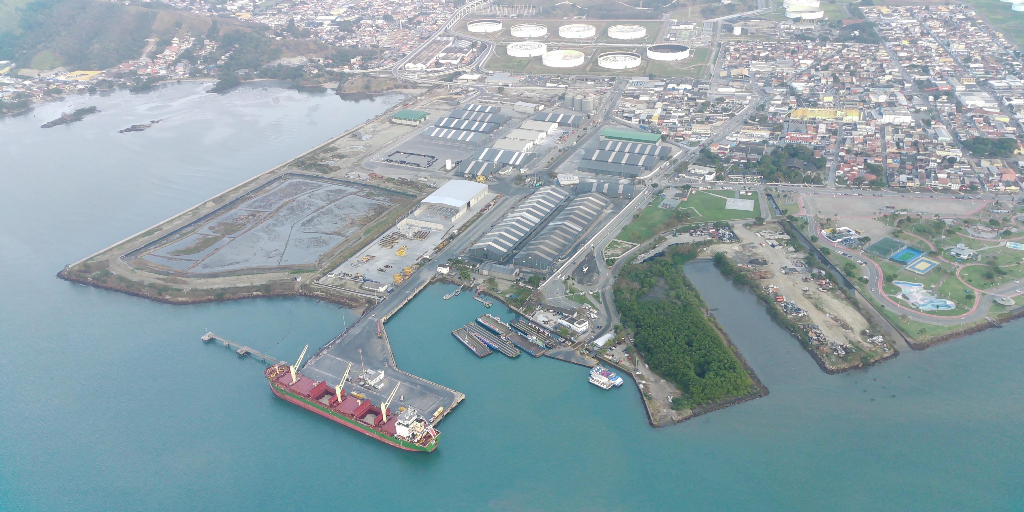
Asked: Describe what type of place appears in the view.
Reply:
port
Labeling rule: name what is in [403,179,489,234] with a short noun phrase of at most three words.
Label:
hangar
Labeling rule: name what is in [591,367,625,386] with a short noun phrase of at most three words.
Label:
boat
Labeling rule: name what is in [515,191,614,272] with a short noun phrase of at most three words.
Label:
building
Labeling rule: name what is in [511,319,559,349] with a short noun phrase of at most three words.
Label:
ship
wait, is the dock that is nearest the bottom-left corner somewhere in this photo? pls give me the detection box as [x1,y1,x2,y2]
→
[201,332,288,370]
